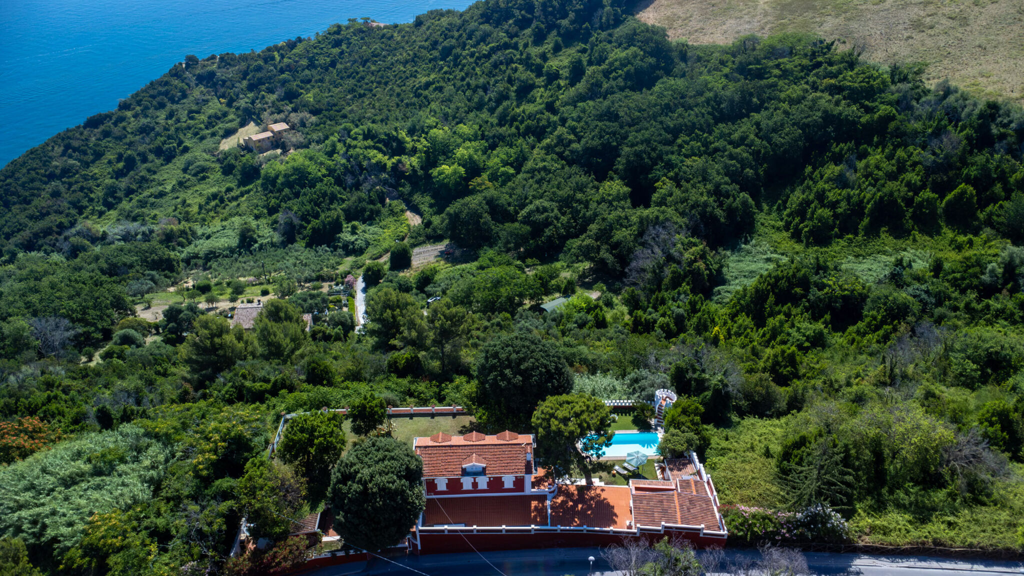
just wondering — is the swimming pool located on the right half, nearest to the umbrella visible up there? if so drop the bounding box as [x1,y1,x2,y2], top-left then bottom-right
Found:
[588,429,665,459]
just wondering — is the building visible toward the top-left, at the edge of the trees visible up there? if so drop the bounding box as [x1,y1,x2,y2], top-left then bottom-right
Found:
[241,121,295,159]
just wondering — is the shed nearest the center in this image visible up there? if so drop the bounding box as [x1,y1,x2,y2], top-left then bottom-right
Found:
[542,293,574,315]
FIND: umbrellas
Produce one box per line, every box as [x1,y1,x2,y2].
[625,451,647,479]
